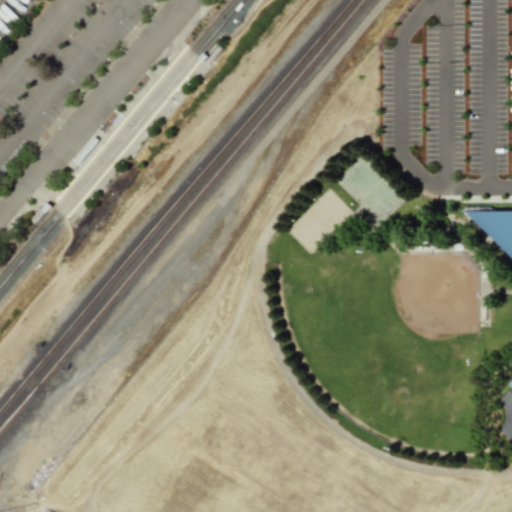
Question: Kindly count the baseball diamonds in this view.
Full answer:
The picture shows just 1 baseball diamond.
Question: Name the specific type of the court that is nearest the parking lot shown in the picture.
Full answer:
It looks like the court that is nearest the parking lot is a basketball court.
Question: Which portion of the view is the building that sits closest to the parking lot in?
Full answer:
Look in the right portion of the view to spot the building that sits closest to the parking lot.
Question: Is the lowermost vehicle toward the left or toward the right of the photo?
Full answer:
You can find the lowermost vehicle on the left side of the picture.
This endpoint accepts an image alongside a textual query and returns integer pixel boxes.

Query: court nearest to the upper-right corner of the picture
[337,156,406,224]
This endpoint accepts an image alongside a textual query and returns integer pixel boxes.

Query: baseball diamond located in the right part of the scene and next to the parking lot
[281,249,482,453]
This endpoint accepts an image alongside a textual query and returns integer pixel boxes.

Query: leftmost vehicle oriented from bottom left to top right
[34,200,54,223]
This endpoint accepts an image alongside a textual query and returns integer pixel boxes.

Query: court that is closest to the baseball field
[290,188,354,254]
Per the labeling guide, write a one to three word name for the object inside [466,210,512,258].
building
